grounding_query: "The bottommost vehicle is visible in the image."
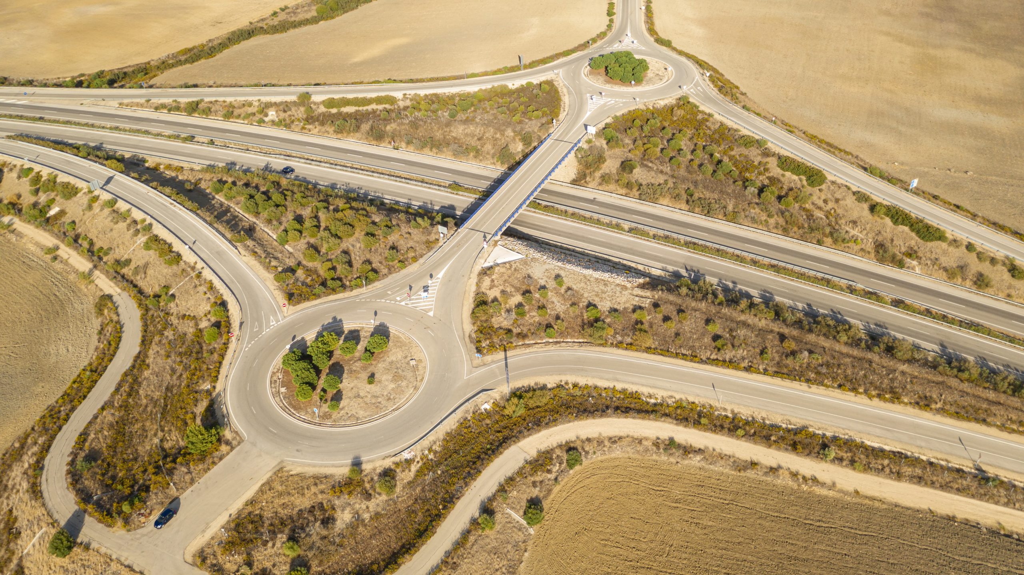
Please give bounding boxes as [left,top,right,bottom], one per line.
[152,507,176,529]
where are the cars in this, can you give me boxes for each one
[281,167,294,174]
[152,507,176,529]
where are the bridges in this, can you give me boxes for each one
[461,134,577,235]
